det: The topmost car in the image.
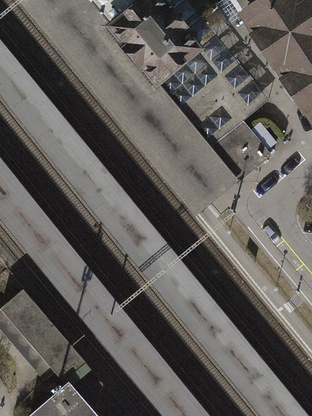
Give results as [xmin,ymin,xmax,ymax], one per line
[297,112,312,130]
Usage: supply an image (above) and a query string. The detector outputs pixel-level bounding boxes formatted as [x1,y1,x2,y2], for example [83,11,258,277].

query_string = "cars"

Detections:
[302,224,312,233]
[262,222,282,244]
[297,112,312,130]
[256,174,278,194]
[281,153,302,172]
